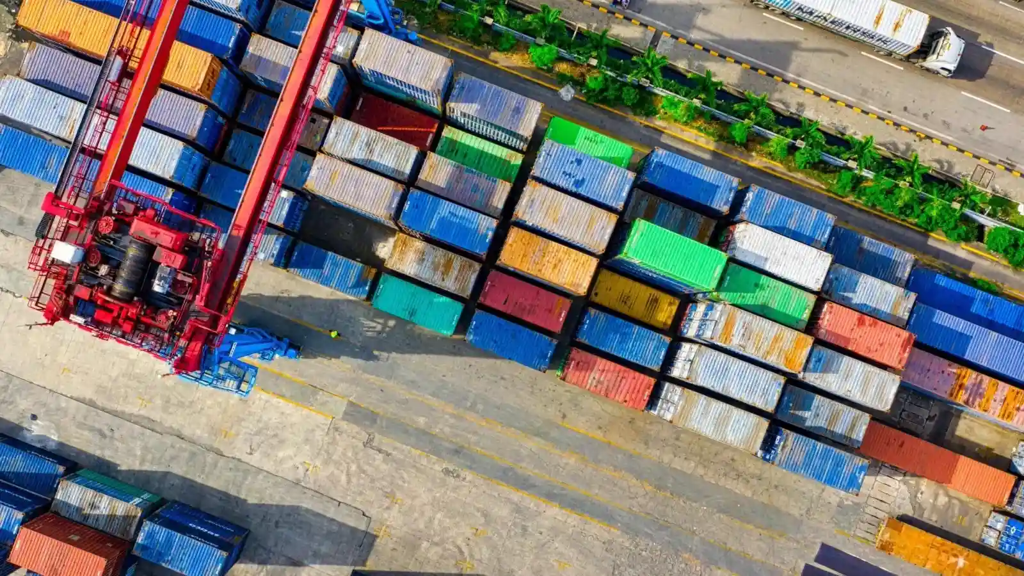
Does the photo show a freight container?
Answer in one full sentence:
Yes, the image includes a freight container.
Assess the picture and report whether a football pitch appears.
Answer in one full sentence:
No, I can see no football pitch in this picture.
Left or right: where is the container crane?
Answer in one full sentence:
The container crane is on the left side of the image.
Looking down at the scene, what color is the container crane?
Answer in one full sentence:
The container crane is red.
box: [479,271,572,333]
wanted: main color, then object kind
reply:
red shipping container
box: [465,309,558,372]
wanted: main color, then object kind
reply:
blue shipping container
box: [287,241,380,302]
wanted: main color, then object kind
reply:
blue shipping container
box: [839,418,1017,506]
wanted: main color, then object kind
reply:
red shipping container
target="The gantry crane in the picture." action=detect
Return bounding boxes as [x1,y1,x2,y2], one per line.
[12,0,430,406]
